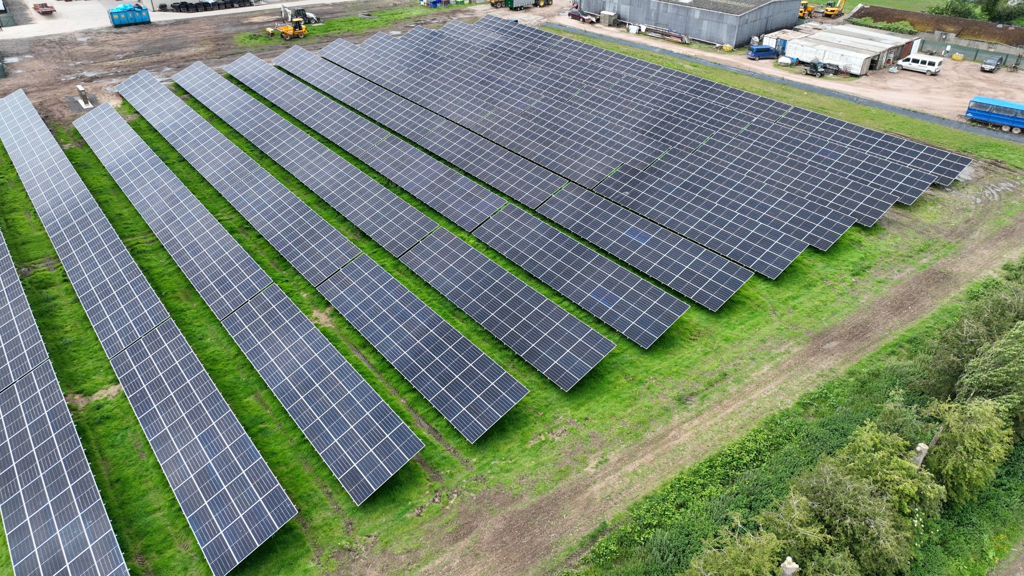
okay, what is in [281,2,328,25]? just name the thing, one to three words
work vehicle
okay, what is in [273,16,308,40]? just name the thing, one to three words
truck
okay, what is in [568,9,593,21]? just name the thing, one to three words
vehicle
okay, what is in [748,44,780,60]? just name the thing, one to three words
vehicle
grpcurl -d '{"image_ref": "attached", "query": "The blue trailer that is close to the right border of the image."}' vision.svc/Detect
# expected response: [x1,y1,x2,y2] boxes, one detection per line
[954,97,1024,134]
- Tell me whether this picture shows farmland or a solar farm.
solar farm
